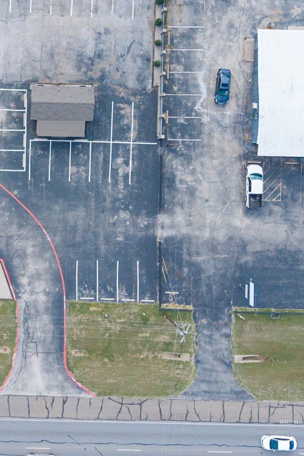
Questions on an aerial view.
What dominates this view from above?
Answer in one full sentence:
The largest share of the image is taken up by paved ground.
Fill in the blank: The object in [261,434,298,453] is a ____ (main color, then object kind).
white car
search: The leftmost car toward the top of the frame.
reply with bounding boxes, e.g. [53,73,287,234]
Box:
[215,68,232,105]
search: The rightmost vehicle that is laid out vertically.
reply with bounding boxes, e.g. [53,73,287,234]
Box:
[246,164,265,209]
